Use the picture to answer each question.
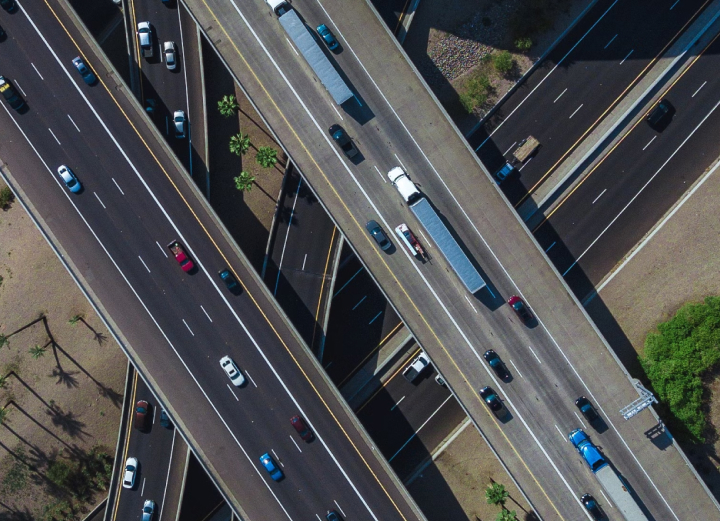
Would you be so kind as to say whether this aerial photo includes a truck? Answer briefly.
Yes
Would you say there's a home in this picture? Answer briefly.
No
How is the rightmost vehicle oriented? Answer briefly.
diagonally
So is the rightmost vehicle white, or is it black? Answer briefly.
black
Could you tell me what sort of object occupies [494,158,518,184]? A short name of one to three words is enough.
vehicle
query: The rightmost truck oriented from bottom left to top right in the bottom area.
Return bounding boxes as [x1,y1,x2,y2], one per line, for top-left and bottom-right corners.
[401,352,429,381]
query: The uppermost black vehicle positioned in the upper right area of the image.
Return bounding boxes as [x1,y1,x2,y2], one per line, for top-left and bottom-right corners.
[645,99,671,126]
